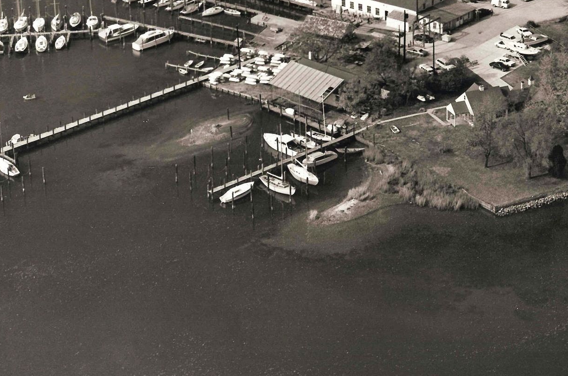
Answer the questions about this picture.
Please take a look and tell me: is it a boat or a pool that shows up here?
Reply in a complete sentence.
There is a boat in the scene.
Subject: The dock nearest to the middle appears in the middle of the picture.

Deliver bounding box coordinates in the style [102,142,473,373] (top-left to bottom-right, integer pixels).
[208,119,385,199]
